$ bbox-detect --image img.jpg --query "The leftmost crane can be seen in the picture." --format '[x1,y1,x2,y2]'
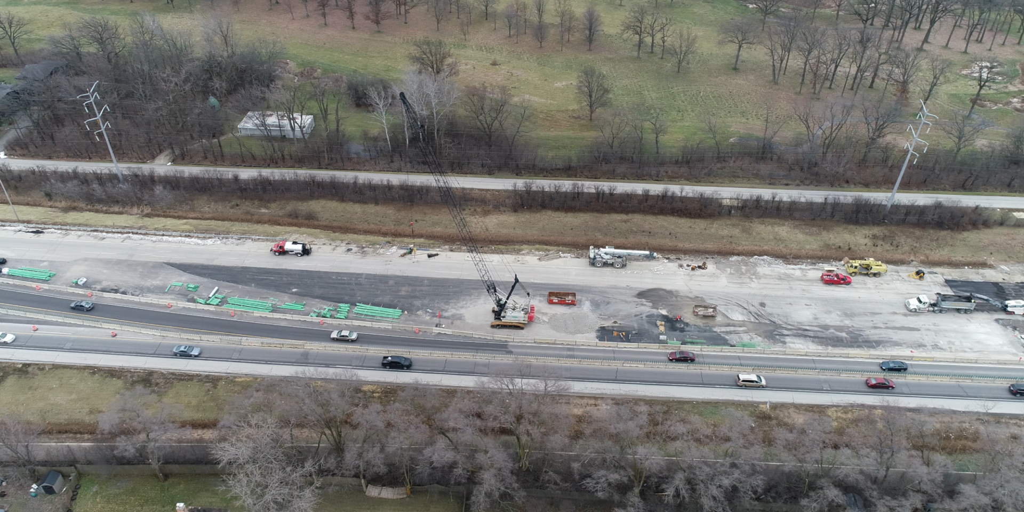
[397,92,534,330]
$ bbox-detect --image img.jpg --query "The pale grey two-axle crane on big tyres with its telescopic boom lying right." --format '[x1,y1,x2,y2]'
[590,245,650,265]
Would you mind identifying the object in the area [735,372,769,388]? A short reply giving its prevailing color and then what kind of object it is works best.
white car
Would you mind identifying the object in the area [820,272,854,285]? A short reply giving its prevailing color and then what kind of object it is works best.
red vehicle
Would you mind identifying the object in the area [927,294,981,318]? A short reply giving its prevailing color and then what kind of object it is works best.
gray trailer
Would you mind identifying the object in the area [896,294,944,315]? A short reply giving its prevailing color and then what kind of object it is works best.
white truck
